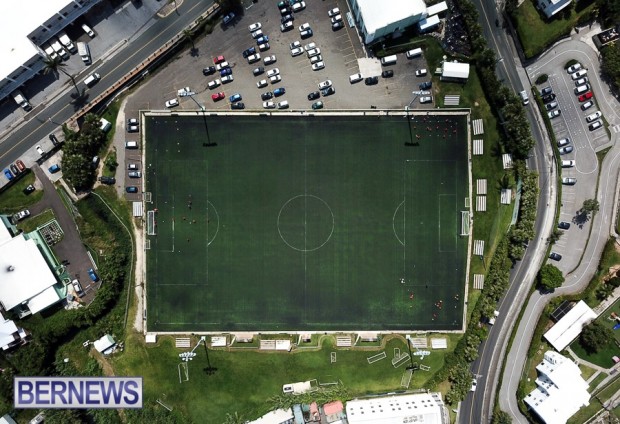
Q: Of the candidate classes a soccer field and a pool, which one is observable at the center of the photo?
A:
soccer field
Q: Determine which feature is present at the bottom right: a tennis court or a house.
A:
house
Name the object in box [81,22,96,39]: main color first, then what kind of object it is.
white vehicle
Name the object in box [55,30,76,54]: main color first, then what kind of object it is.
white vehicle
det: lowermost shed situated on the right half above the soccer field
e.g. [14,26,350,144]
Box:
[441,62,470,81]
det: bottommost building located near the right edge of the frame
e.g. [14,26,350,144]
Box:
[515,346,591,424]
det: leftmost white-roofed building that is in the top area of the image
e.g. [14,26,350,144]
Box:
[0,0,105,104]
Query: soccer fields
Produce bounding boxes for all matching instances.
[147,115,466,330]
